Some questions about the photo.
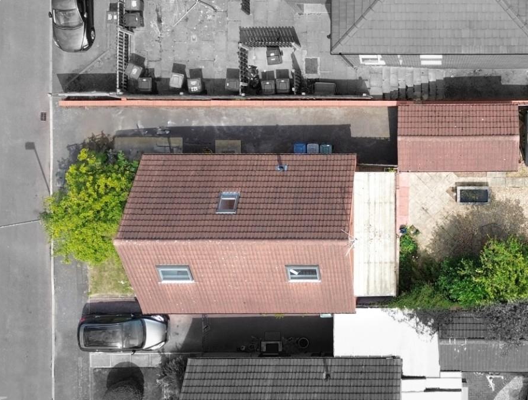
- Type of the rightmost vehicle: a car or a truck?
car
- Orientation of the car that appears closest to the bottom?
horizontally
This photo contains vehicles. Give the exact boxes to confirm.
[46,0,98,54]
[74,310,173,358]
